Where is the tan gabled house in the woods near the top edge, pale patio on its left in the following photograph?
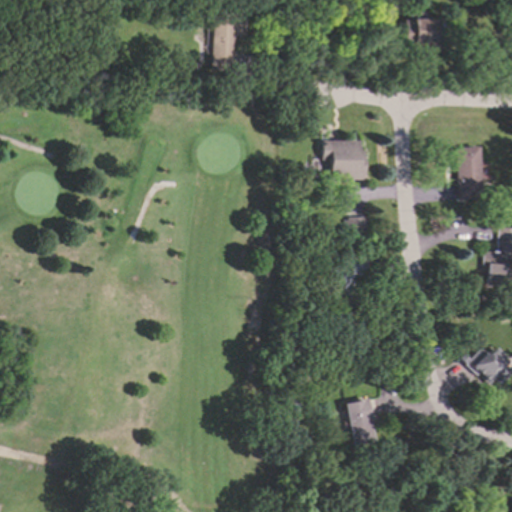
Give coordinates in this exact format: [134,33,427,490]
[213,22,235,57]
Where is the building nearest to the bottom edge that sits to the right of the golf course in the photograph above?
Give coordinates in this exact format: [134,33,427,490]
[346,396,378,444]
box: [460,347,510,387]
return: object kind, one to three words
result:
house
